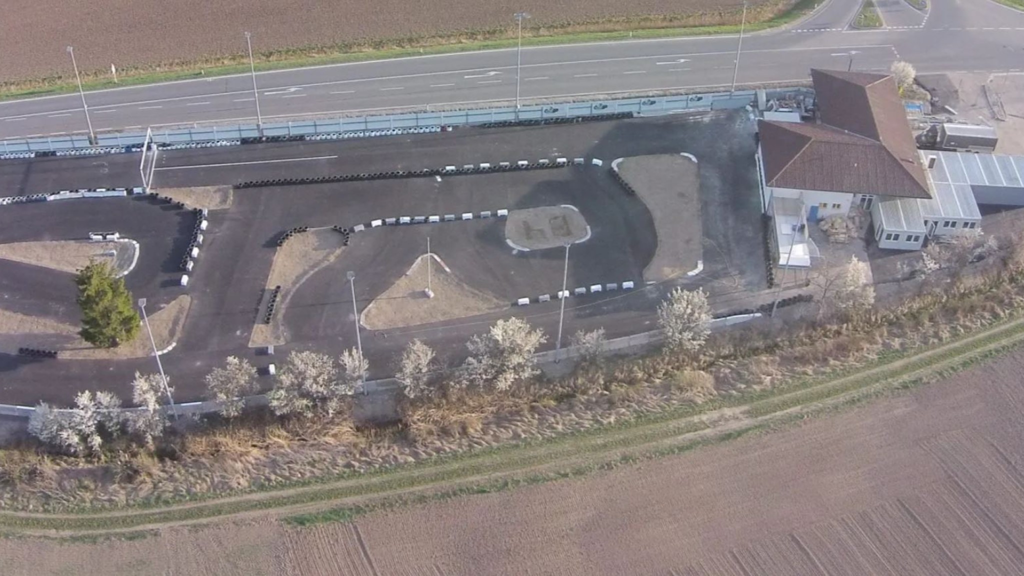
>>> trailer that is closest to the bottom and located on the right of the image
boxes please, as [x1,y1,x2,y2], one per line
[939,124,998,153]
